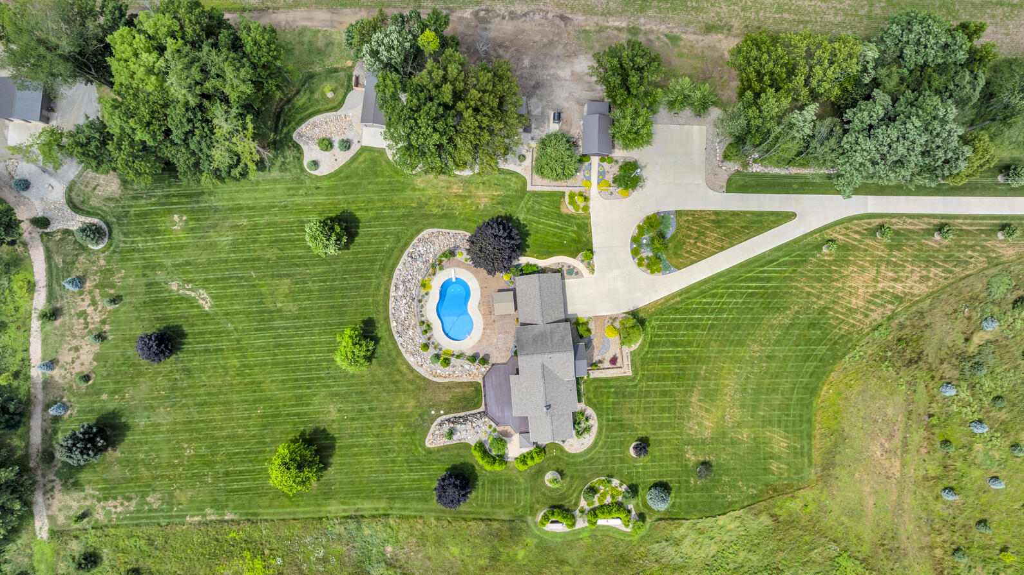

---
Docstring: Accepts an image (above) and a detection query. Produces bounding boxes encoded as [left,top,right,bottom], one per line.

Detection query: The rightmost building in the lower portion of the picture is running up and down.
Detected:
[509,273,587,450]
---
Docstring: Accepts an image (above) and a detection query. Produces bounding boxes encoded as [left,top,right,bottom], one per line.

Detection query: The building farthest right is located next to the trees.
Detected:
[583,102,612,158]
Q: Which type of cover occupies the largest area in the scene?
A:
grass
